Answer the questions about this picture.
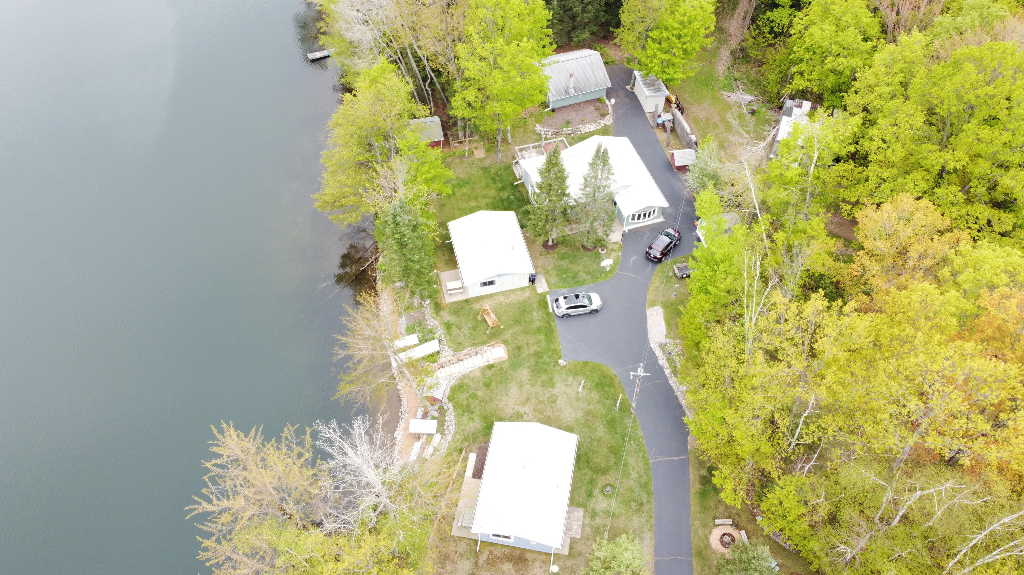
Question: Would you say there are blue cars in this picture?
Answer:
No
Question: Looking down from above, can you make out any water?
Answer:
Yes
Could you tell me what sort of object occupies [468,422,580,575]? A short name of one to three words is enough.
house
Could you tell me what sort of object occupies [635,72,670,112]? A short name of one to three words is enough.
shed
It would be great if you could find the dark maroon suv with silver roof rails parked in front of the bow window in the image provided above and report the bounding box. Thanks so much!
[645,226,681,260]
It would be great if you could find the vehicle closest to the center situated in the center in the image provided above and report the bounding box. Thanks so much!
[552,290,602,316]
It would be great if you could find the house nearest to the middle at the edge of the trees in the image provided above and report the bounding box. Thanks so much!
[445,210,536,298]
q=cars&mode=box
[645,226,681,260]
[552,290,602,316]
